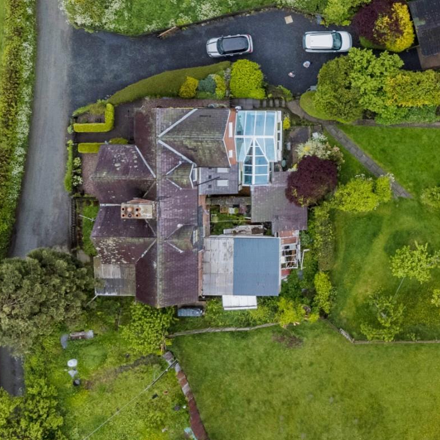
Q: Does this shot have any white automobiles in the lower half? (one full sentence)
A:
No, looking in the lower half, there is no white automobile.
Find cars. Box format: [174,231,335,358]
[304,30,352,53]
[207,34,255,58]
